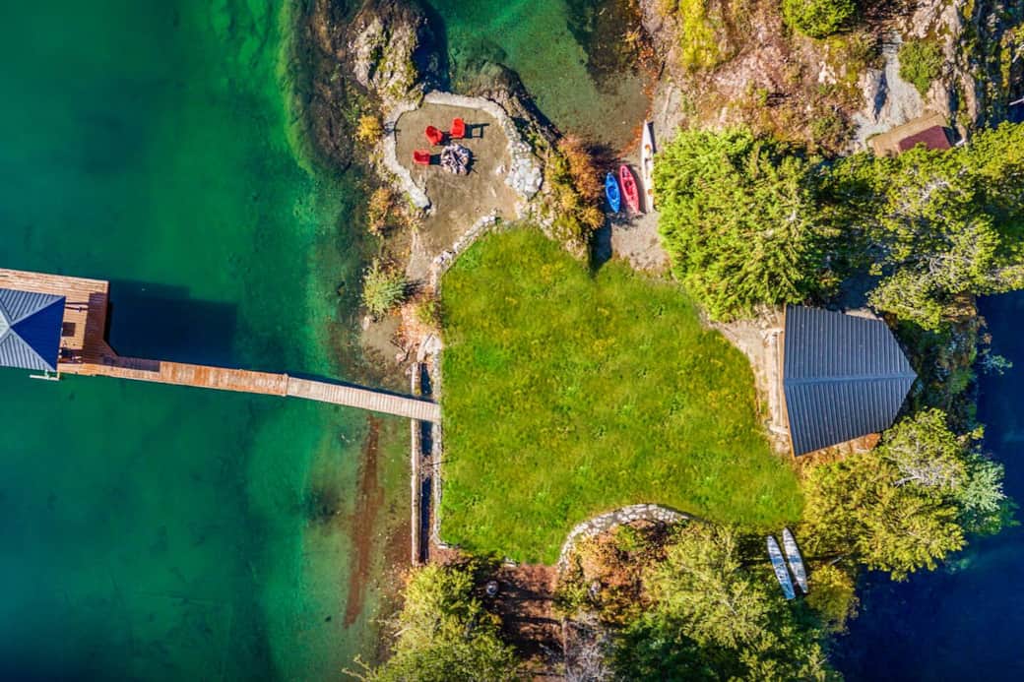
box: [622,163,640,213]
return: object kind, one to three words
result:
boat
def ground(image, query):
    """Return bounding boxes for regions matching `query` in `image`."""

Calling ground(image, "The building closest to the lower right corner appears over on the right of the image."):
[778,305,918,457]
